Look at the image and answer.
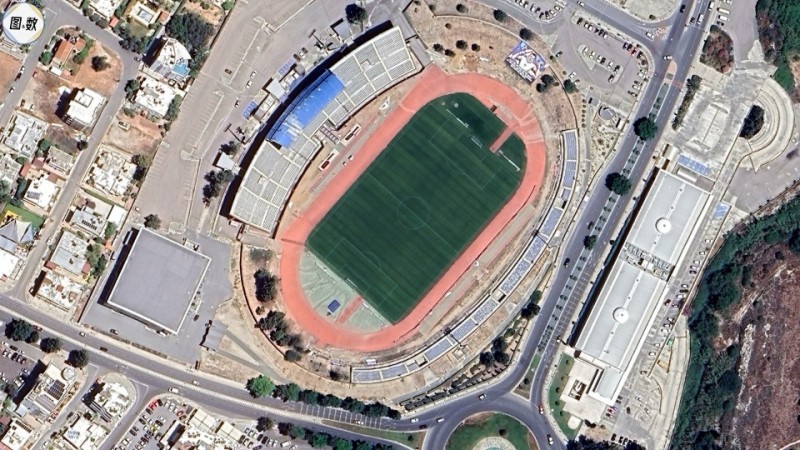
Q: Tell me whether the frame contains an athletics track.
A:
Yes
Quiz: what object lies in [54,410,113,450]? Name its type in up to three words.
building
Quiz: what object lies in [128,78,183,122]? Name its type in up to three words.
house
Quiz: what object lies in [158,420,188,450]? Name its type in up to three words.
building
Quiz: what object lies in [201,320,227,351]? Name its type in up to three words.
shed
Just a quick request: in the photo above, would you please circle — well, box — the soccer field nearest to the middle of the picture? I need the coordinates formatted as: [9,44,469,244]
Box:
[309,92,526,323]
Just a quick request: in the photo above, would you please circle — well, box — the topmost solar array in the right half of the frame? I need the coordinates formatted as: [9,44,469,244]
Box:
[677,155,710,175]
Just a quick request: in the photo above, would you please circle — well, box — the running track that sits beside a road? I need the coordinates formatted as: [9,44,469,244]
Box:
[277,62,546,351]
